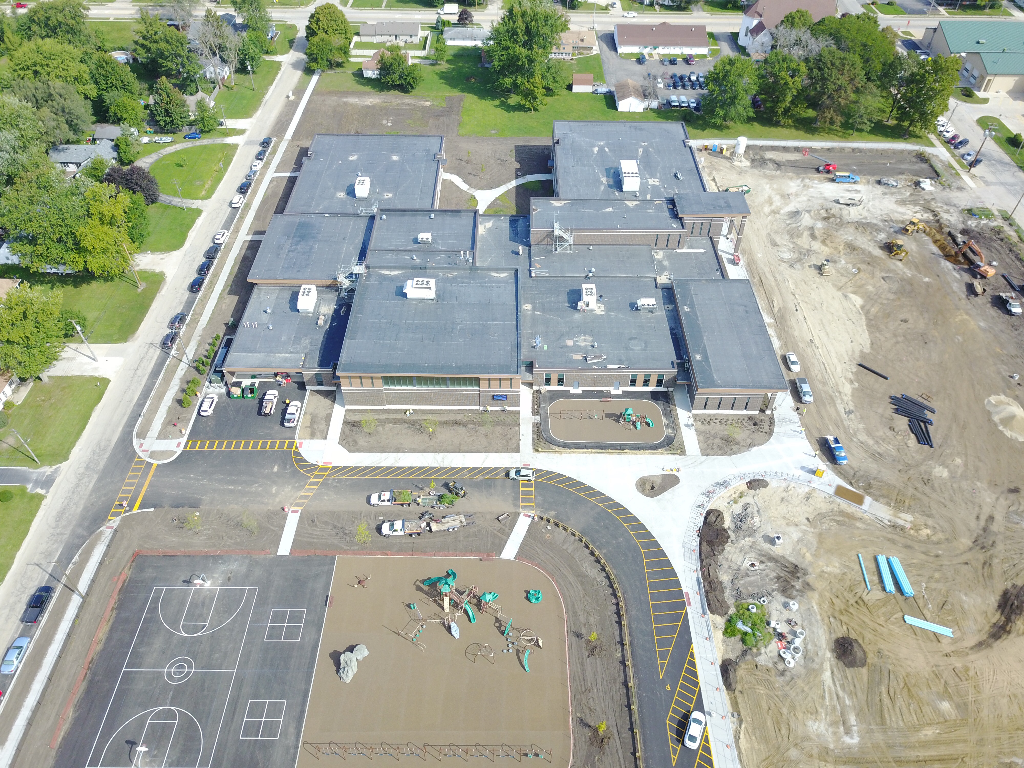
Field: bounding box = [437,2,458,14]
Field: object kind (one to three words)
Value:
vehicle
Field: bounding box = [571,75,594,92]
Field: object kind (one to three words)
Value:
shed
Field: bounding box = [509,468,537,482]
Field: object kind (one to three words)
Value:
car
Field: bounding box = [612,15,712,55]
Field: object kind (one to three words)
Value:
building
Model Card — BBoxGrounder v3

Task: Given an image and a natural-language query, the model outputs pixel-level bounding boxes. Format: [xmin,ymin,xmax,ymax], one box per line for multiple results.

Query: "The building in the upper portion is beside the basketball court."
[222,120,791,414]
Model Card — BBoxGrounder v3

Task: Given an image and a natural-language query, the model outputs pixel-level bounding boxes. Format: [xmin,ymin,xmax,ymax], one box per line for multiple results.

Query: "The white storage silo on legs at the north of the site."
[732,137,751,165]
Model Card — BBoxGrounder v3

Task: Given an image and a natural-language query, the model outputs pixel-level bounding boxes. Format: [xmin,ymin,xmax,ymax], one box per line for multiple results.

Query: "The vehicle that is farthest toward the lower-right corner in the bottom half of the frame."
[683,709,706,753]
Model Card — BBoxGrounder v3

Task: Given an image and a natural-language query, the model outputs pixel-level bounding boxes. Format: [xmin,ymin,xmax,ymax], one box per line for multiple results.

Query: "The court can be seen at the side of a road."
[51,555,336,768]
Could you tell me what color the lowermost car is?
white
